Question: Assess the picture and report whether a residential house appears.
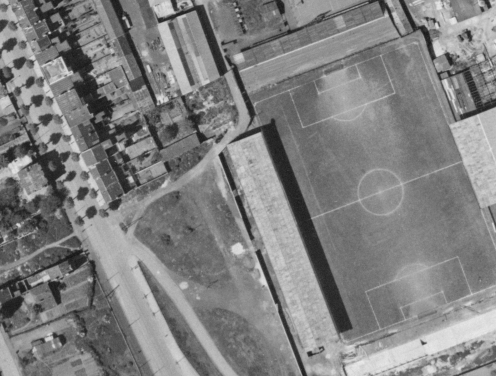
Yes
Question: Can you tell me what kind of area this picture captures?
sports ground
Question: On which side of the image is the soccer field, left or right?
right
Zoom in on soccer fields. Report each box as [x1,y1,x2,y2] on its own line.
[255,36,496,344]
